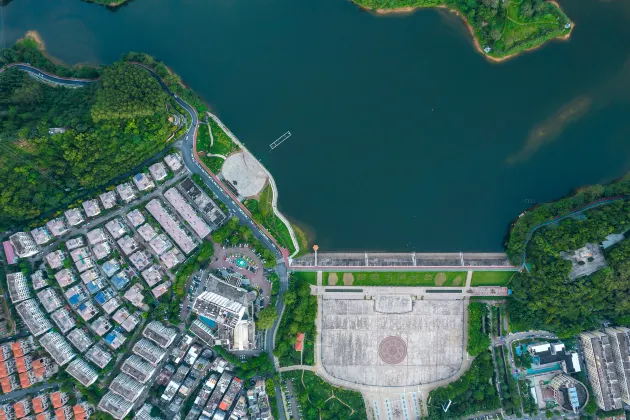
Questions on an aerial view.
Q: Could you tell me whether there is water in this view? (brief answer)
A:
Yes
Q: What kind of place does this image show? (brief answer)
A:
residential area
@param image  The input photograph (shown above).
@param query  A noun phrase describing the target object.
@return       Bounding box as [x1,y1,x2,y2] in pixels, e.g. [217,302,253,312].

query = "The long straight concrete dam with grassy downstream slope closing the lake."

[289,250,519,287]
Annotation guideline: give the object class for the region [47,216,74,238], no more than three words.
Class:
house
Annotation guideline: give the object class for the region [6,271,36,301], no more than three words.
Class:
building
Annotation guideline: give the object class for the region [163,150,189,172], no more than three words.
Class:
house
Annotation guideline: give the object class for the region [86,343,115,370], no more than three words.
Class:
building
